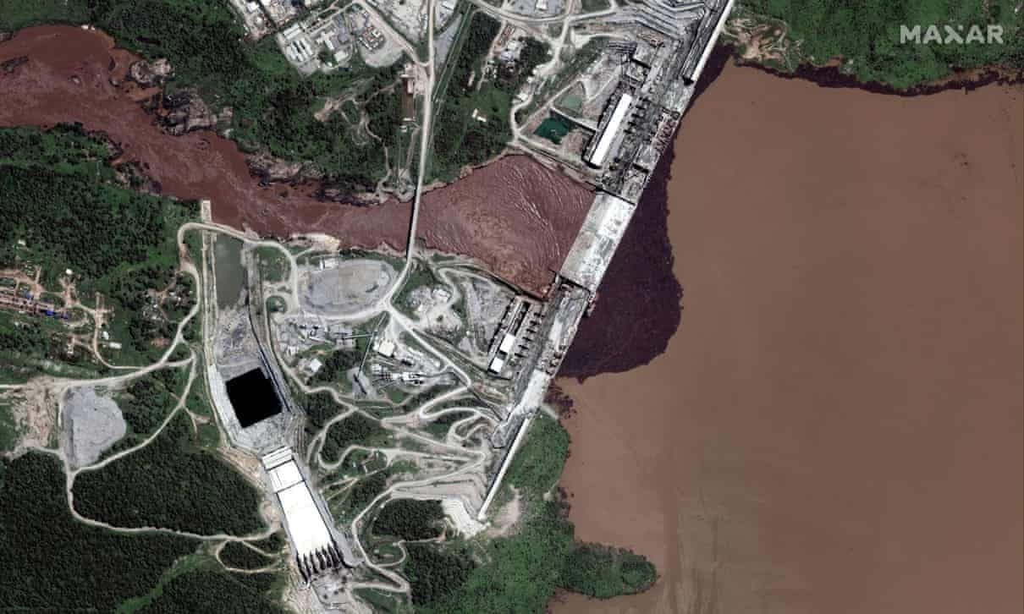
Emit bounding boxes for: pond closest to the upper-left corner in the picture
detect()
[216,231,248,308]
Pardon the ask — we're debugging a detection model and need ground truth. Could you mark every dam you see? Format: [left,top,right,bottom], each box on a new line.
[476,0,734,520]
